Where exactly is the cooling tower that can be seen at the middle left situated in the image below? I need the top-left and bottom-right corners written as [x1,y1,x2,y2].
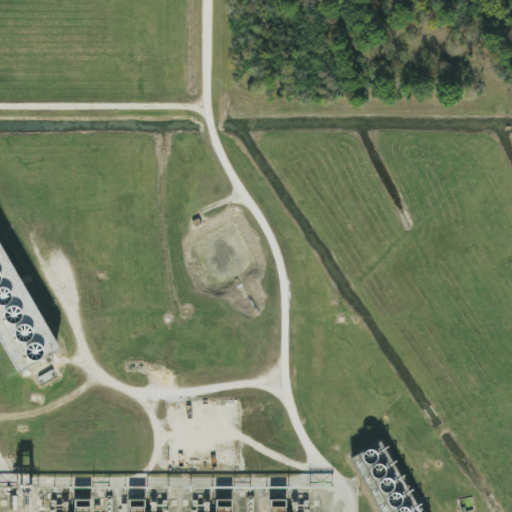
[0,240,62,372]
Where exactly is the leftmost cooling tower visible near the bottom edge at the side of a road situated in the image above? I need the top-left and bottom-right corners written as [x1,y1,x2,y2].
[350,438,424,512]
